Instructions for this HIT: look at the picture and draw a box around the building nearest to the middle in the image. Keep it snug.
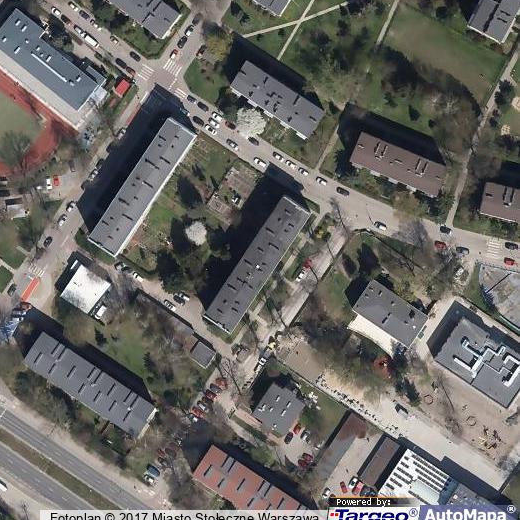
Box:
[204,197,310,334]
